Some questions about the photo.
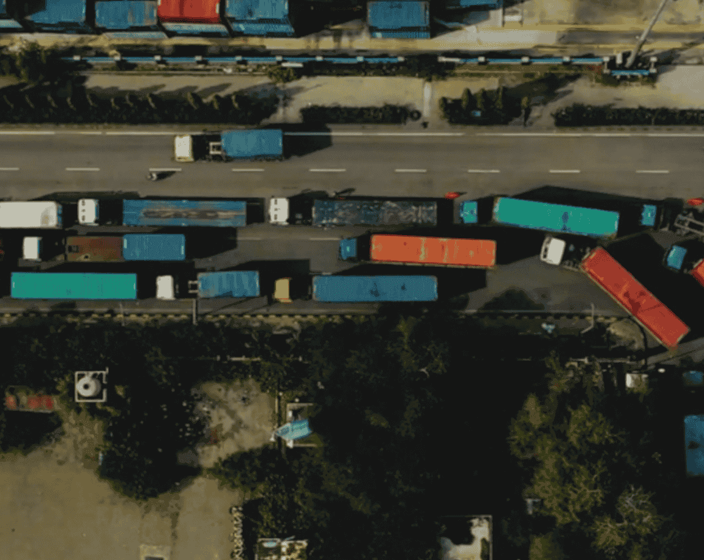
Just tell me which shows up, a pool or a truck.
truck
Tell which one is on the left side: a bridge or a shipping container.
shipping container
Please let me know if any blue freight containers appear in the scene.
Yes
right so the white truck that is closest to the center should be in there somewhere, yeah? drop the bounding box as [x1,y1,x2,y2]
[267,197,437,227]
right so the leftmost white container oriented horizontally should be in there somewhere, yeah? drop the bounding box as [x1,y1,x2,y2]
[0,203,65,230]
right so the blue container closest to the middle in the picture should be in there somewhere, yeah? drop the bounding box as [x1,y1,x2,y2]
[313,276,438,302]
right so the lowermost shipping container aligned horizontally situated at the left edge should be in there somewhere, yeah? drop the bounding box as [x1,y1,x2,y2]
[11,274,141,300]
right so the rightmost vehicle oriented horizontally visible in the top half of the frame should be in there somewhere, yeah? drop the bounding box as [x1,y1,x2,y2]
[631,200,704,242]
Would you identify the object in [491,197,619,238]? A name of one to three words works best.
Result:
shipping container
